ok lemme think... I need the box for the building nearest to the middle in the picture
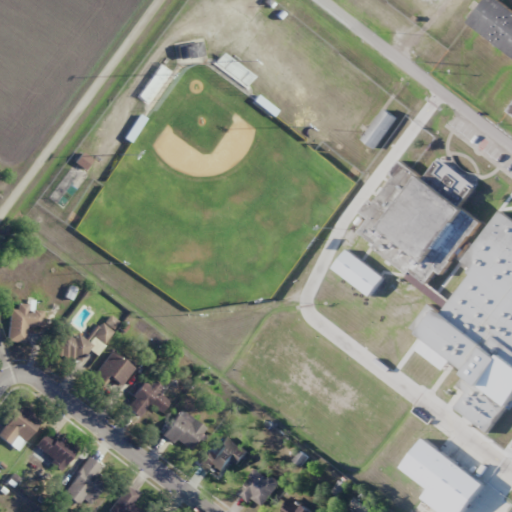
[331,250,382,296]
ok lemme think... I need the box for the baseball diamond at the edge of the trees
[78,65,354,310]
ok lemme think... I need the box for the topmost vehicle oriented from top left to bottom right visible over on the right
[374,358,391,372]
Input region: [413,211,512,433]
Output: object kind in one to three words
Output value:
building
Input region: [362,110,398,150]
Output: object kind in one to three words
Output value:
building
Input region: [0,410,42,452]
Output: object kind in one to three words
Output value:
house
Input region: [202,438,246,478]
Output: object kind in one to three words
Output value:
house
